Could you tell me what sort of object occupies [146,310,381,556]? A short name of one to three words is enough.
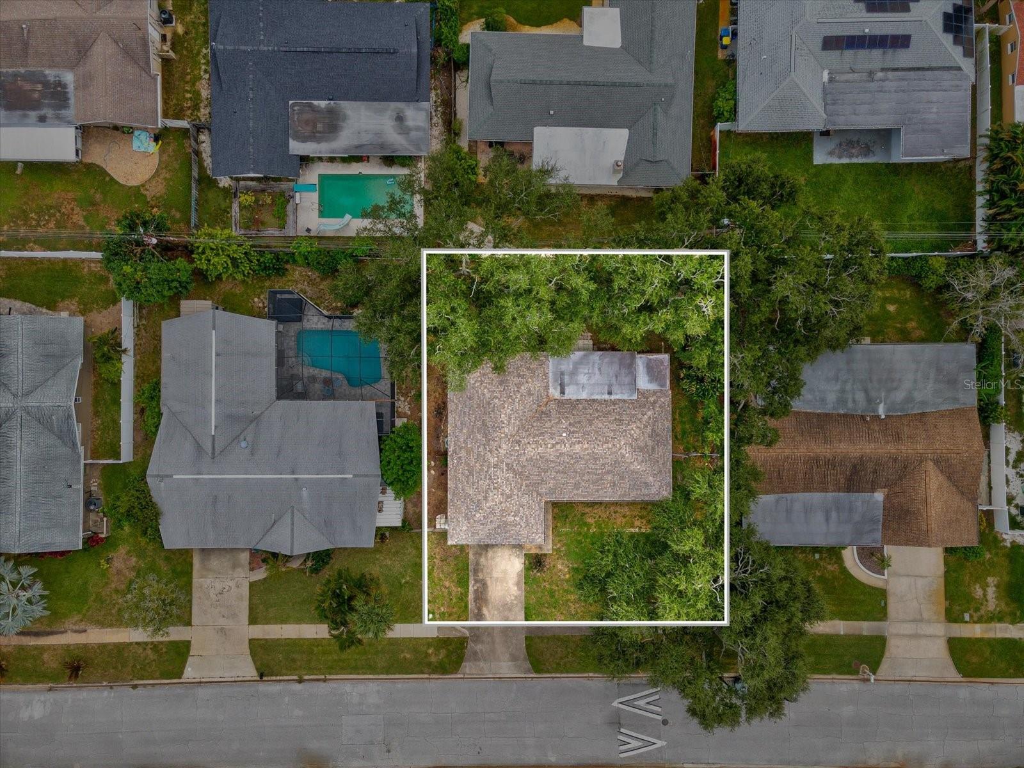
house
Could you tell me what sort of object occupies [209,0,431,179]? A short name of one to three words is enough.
house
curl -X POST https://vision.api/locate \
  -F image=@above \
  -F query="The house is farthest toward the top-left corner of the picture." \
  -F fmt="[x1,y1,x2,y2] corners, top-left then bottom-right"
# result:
[0,0,170,161]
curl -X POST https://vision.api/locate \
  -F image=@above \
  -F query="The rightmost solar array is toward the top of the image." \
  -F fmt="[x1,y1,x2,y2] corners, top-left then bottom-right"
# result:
[944,0,975,56]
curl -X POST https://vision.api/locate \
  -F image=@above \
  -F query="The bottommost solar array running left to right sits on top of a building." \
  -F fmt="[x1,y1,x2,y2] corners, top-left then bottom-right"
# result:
[823,35,912,50]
